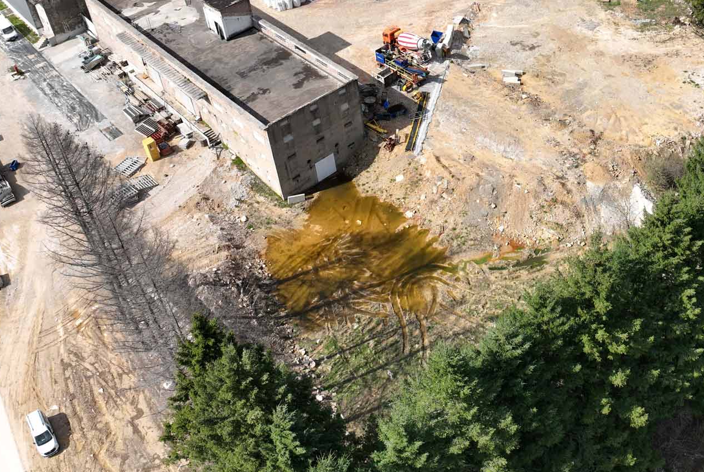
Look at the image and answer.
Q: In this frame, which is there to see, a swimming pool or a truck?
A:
truck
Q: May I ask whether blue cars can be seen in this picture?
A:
No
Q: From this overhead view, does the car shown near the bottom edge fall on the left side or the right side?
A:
left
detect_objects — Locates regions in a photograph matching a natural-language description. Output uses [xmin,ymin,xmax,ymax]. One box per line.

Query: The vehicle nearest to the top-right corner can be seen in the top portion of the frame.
[381,25,444,63]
